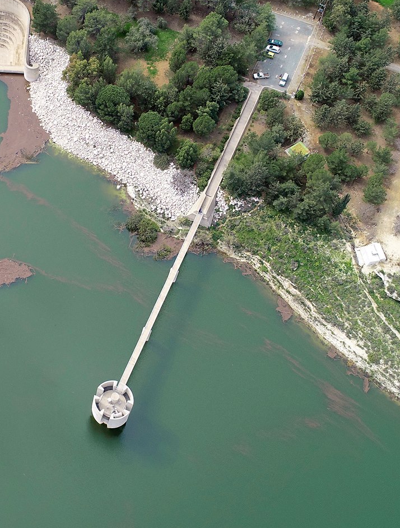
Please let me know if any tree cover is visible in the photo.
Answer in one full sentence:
Yes, the picture does contain tree cover.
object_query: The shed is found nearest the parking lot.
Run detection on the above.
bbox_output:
[285,141,310,165]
